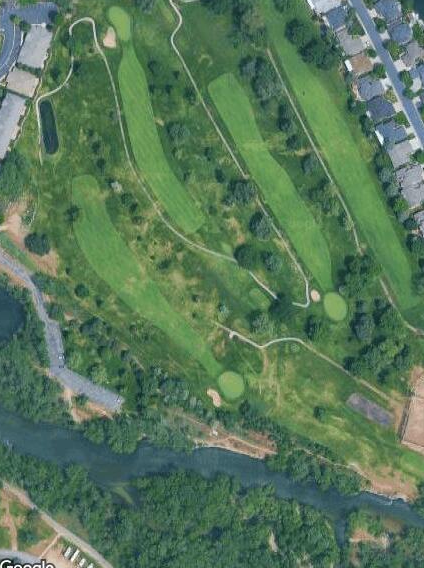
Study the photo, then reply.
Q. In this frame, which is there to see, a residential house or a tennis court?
residential house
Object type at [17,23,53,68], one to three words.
building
